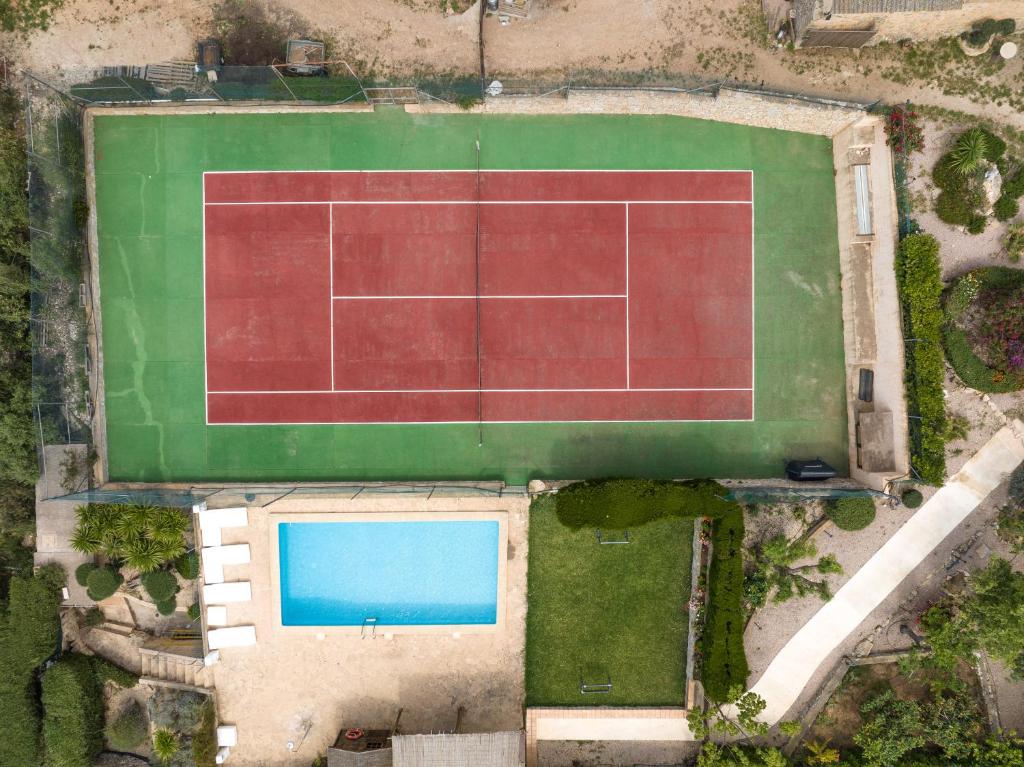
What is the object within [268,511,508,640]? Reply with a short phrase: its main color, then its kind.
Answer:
blue swimming pool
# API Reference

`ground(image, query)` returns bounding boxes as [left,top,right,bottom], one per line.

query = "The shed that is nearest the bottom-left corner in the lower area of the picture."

[327,729,392,767]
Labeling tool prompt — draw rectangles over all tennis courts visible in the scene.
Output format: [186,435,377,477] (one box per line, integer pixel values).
[93,103,850,488]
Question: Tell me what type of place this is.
sports ground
